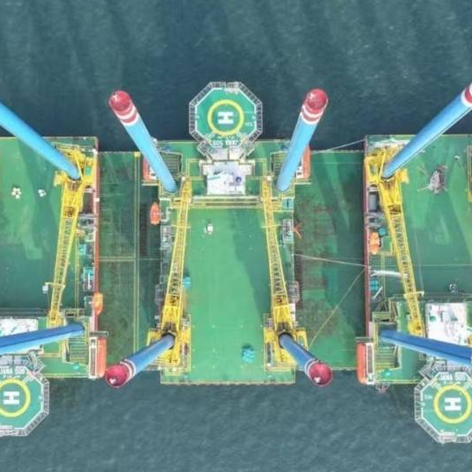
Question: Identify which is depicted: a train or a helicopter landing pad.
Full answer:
There is a helicopter landing pad in the scene.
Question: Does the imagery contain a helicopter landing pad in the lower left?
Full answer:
Yes, a helicopter landing pad appears in the lower left.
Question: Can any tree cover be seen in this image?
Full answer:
No, the picture contains no tree cover.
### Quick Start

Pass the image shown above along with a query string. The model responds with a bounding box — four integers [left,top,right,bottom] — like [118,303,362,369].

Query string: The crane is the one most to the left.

[47,141,103,326]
